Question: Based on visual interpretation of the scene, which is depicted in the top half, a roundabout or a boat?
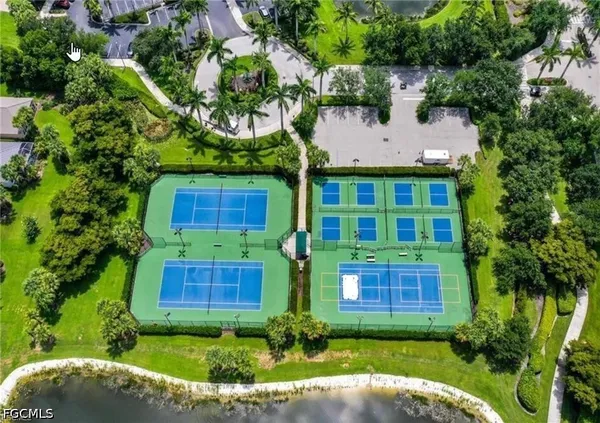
roundabout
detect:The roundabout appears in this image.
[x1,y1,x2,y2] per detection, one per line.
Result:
[201,45,290,128]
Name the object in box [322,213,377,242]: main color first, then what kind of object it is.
blue sports court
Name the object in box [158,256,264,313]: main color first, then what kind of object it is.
blue tennis court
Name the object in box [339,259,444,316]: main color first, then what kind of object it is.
blue tennis court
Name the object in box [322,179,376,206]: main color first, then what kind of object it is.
blue sports court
